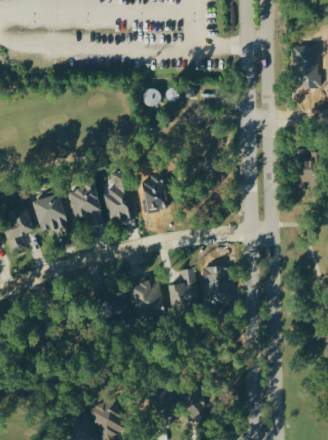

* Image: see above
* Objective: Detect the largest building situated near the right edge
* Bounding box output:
[292,42,322,92]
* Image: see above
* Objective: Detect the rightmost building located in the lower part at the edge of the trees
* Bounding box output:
[202,268,230,307]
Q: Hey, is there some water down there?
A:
No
